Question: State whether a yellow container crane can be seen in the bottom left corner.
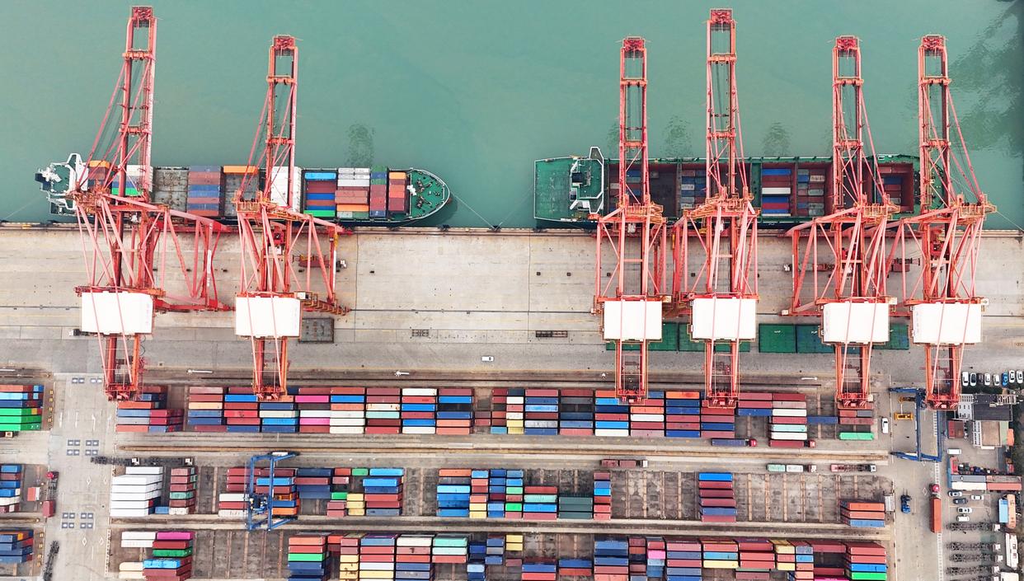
No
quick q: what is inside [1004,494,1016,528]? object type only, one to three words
vehicle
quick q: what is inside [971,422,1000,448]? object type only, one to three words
building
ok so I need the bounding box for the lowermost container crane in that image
[242,451,300,532]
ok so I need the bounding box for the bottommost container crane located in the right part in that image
[889,387,944,462]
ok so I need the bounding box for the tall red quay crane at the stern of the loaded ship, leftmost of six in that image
[75,6,237,407]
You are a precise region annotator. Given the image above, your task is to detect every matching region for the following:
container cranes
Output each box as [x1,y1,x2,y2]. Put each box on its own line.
[861,39,1009,415]
[889,387,944,462]
[663,12,758,413]
[242,451,300,532]
[75,6,237,407]
[229,33,360,408]
[772,39,910,414]
[583,36,674,412]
